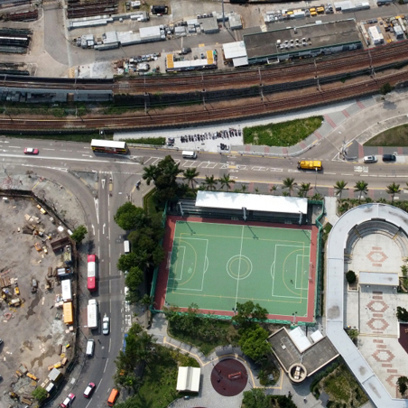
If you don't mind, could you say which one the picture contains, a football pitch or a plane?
football pitch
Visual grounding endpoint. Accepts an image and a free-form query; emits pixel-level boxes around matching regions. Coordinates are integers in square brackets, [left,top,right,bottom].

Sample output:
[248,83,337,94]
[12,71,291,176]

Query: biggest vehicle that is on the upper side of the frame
[90,141,127,154]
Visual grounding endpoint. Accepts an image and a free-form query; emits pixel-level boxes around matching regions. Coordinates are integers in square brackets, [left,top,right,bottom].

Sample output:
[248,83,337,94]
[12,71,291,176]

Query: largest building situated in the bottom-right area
[268,328,338,386]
